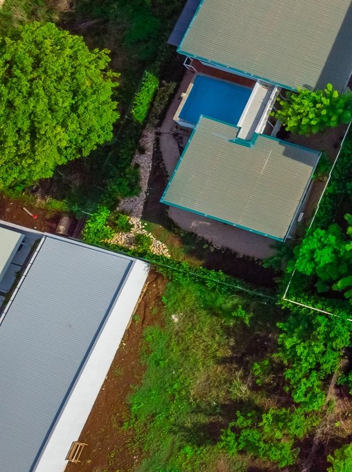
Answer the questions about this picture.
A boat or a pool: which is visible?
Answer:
pool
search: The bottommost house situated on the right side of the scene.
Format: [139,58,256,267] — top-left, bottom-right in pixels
[157,113,326,246]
